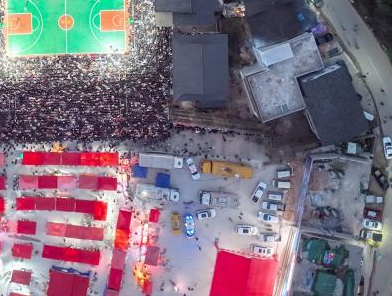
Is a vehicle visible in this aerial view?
Yes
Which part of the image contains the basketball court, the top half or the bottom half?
top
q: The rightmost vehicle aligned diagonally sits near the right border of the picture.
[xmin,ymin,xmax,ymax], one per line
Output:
[371,167,388,187]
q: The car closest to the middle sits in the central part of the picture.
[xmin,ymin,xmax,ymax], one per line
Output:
[185,158,198,178]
